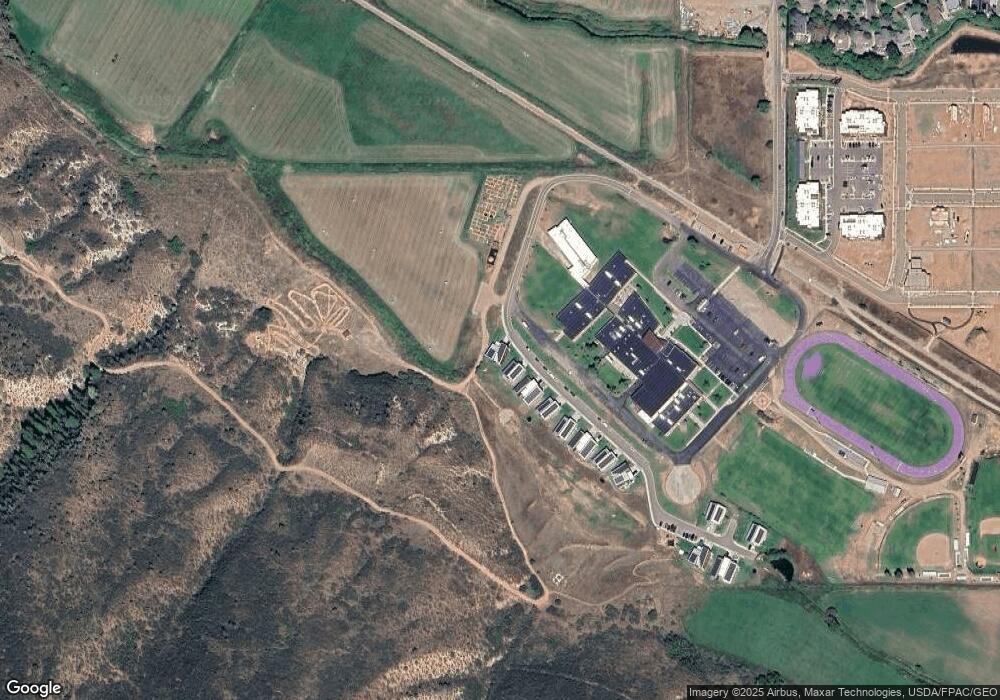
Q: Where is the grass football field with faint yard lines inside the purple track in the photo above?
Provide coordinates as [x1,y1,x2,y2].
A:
[796,343,953,465]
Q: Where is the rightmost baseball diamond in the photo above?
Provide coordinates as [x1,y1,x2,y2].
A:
[966,451,1000,572]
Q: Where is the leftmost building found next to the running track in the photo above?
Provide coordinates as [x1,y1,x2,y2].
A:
[556,250,701,434]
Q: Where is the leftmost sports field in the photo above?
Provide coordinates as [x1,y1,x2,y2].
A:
[719,421,869,556]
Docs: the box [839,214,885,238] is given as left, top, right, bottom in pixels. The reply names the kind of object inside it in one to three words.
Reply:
building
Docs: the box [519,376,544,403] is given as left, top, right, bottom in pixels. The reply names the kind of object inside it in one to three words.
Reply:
house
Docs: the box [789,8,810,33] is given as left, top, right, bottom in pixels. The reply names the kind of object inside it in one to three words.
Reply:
house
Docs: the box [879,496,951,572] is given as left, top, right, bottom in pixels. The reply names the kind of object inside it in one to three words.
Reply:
baseball field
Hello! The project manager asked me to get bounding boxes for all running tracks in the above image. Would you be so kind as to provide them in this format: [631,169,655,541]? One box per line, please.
[783,330,964,476]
